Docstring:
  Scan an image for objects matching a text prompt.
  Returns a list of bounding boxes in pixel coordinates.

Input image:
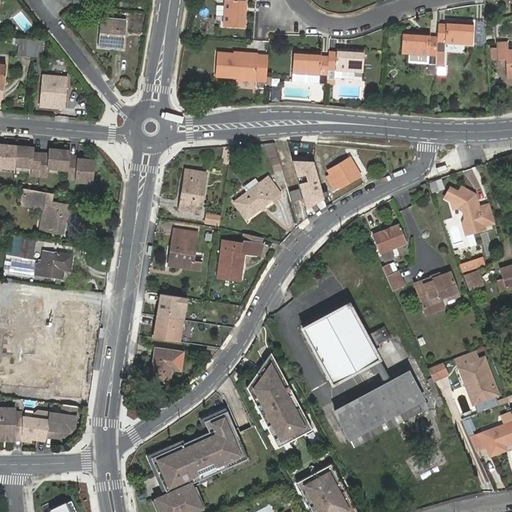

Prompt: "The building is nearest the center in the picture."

[216,238,264,282]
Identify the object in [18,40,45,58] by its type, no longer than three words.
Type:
building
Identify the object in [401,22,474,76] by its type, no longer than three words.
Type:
house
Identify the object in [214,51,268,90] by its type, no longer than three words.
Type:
house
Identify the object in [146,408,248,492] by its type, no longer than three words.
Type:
building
